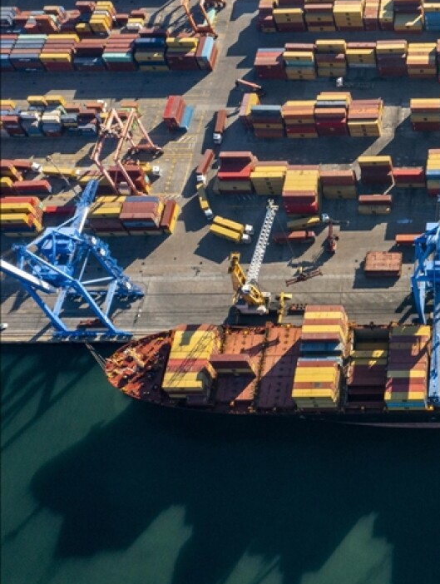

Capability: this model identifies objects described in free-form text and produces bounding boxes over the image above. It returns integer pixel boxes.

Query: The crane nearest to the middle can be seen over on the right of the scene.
[214,200,322,325]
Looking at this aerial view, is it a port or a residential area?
port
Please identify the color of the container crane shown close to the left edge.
blue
